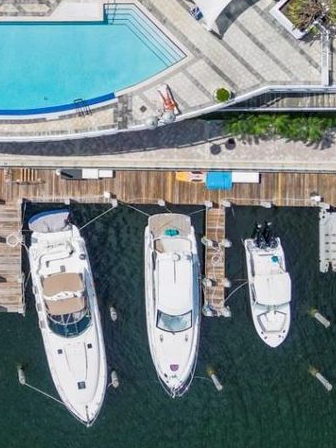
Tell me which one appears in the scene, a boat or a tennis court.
boat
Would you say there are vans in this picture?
No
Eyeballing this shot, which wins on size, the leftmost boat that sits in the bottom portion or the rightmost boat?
the leftmost boat that sits in the bottom portion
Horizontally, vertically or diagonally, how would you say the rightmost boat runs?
vertically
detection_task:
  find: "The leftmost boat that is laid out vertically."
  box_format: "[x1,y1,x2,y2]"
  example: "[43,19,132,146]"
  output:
[26,206,106,431]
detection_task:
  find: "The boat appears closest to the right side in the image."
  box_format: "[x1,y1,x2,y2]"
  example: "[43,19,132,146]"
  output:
[243,213,290,348]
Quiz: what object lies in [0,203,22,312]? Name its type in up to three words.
pier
